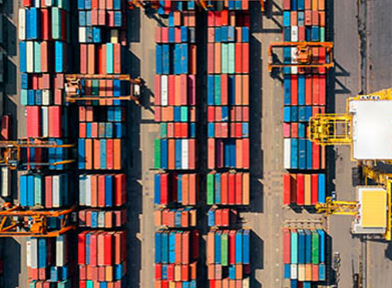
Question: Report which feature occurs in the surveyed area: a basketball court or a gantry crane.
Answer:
gantry crane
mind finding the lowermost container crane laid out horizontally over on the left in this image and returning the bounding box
[0,200,79,238]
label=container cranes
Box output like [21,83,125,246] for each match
[0,135,78,167]
[266,38,334,77]
[307,87,392,166]
[311,163,392,245]
[198,0,270,16]
[64,70,147,107]
[132,0,206,16]
[0,200,79,238]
